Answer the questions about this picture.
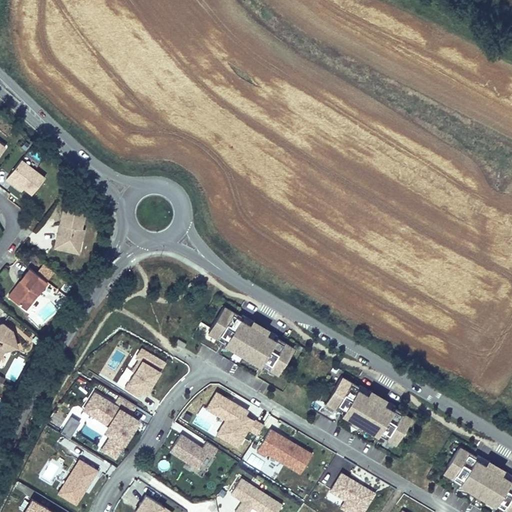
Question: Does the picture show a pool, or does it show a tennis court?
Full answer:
This aerial view contains a pool.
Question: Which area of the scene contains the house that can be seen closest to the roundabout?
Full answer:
Look in the left portion of the view to spot the house that can be seen closest to the roundabout.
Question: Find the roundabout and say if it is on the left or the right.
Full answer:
The roundabout is on the left side of the image.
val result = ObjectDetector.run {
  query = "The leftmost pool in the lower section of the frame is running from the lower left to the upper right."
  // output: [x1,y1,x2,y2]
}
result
[6,356,26,381]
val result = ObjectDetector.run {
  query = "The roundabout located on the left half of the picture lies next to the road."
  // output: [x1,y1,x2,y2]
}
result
[118,176,192,250]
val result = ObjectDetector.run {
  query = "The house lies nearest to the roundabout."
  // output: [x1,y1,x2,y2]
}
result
[54,210,86,254]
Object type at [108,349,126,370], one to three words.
swimming pool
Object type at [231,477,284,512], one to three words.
house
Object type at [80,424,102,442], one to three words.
swimming pool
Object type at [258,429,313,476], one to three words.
house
